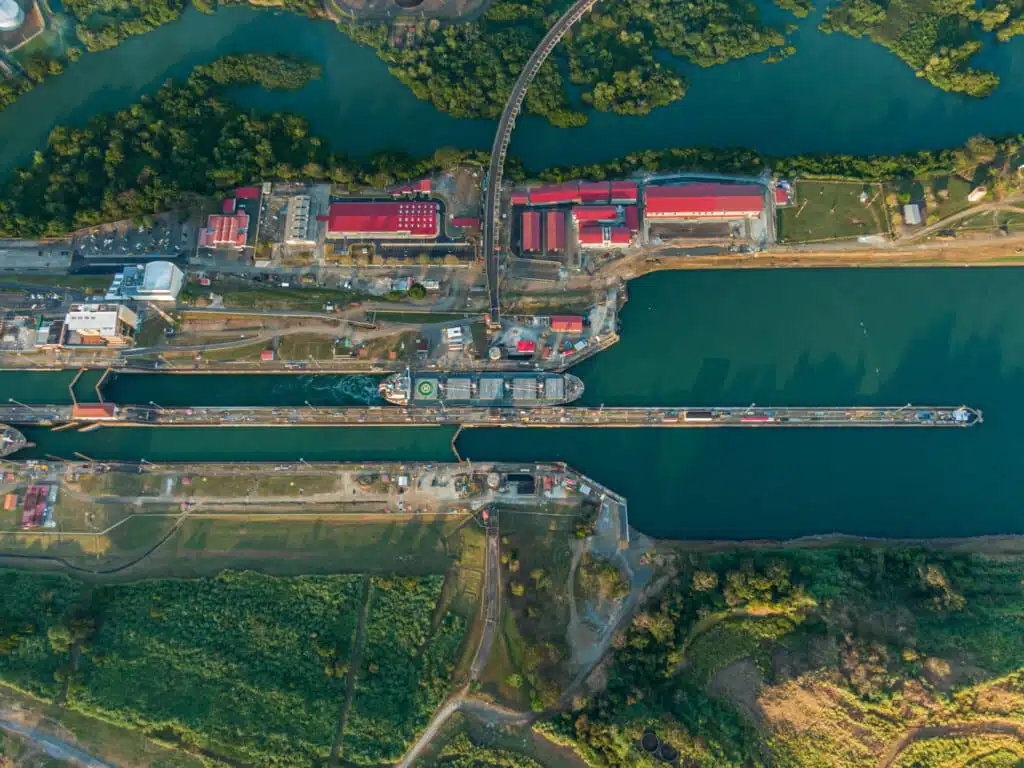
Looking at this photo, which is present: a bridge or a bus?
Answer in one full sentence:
The one in the frame is a bridge.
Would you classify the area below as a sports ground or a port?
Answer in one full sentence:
This image shows a port.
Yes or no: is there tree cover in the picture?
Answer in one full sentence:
Yes, tree cover can be seen from above here.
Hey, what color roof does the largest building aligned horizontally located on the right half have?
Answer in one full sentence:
The color of the roof on the largest building aligned horizontally located on the right half is red.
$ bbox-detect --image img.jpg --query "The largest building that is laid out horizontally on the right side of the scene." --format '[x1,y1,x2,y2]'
[644,186,765,216]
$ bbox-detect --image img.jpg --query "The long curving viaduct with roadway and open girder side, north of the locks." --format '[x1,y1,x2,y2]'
[485,0,600,325]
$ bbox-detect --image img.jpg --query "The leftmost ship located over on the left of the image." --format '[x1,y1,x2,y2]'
[0,426,27,461]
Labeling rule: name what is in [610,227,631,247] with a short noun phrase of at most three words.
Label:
building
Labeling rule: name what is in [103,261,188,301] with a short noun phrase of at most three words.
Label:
building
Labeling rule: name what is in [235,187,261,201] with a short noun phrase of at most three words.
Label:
shed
